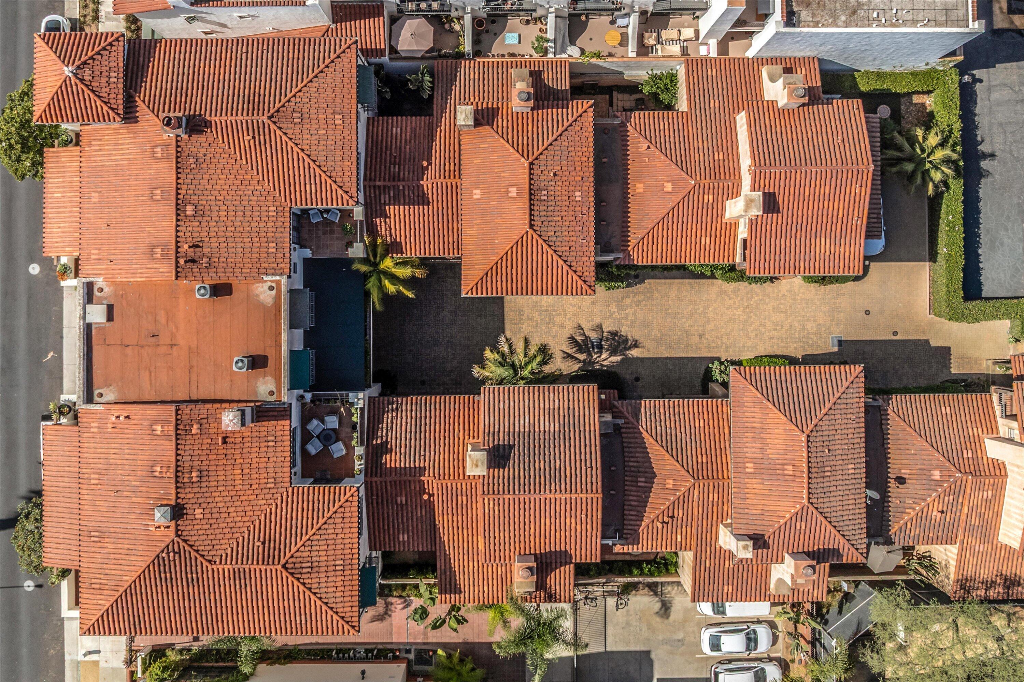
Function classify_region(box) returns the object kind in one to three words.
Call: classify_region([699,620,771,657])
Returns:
car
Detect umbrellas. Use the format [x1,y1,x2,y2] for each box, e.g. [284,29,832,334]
[865,540,904,575]
[391,19,434,58]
